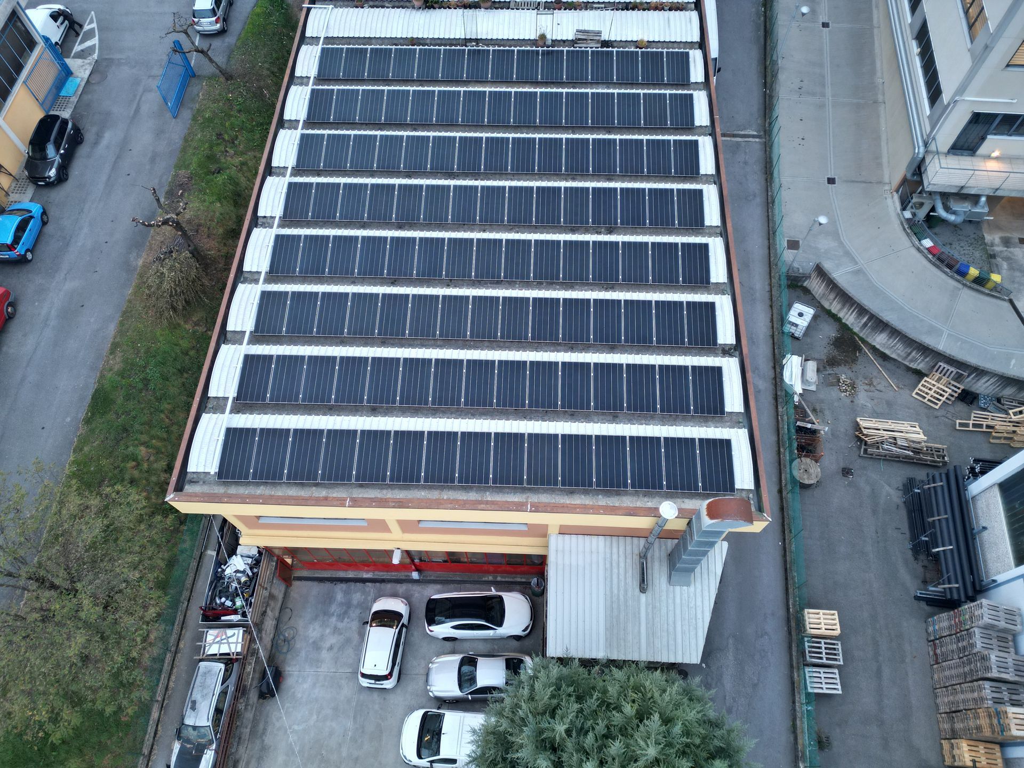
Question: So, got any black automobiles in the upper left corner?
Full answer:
Yes, a black automobile shows up in the upper left corner.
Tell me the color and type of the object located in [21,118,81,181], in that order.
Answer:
black car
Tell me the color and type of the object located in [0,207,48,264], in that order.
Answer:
blue car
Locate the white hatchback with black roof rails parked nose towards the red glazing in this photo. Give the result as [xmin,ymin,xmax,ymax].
[356,596,408,690]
